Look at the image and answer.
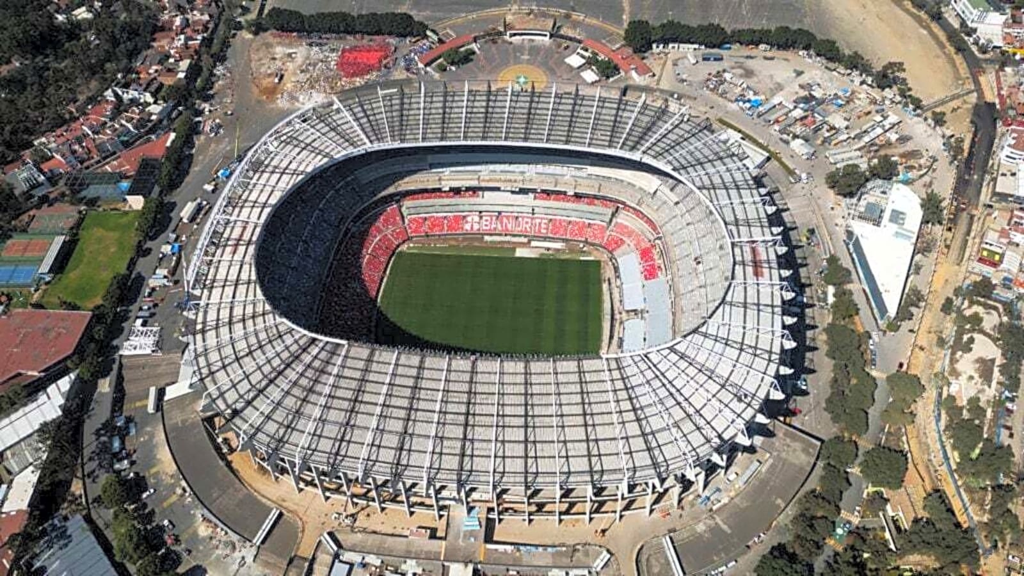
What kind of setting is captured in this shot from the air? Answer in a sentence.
The area seen from above is a sports ground.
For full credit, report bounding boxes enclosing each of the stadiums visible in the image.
[181,77,794,525]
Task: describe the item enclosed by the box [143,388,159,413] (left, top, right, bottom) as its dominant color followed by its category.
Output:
white vehicle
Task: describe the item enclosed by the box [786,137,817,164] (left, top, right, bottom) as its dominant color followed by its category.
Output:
white tent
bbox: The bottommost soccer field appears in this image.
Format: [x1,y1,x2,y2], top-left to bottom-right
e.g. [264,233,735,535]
[378,251,602,359]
